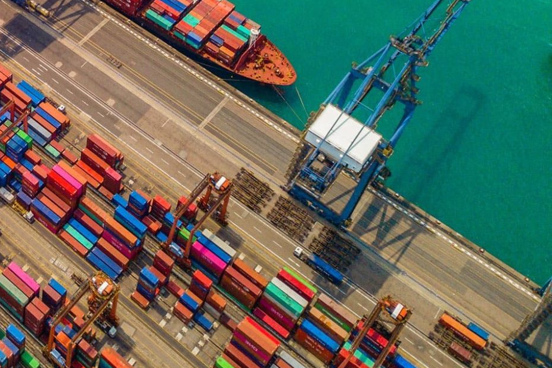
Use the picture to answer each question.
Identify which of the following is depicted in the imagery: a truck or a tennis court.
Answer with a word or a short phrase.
truck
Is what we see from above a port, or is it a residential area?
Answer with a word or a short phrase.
port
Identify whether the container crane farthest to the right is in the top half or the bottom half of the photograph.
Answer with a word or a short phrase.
bottom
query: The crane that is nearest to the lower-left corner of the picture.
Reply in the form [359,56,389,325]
[42,266,127,368]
